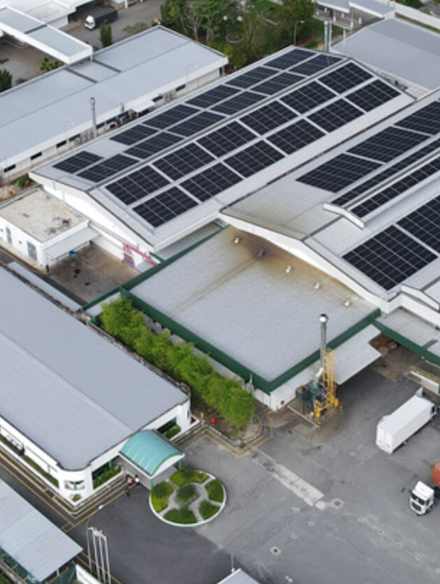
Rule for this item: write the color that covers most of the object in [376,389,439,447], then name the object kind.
white truck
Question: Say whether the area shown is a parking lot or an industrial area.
industrial area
